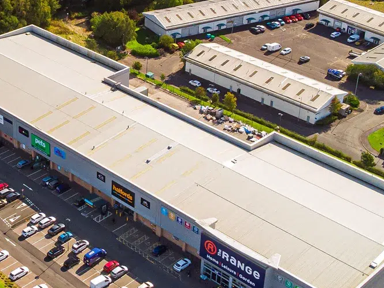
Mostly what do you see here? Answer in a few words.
buildings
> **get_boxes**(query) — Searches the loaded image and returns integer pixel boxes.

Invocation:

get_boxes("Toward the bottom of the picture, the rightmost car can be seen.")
[173,260,191,272]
